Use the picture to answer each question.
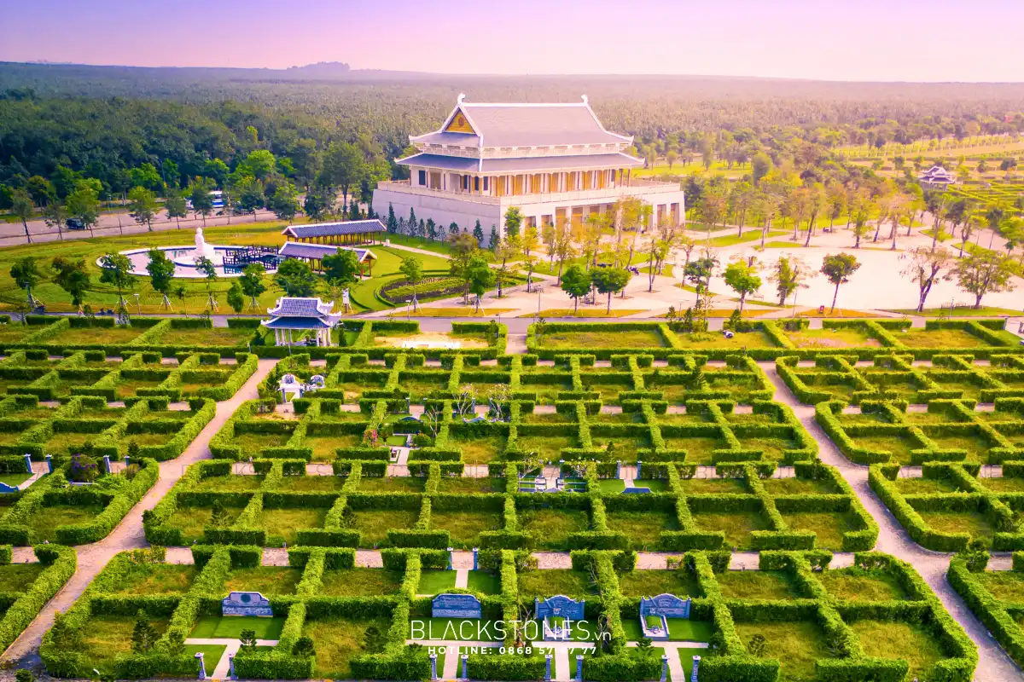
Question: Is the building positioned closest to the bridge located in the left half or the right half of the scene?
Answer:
left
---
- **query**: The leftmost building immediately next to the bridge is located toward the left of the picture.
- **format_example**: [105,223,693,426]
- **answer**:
[259,292,343,349]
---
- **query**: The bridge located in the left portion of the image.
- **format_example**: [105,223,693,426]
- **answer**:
[229,245,314,267]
